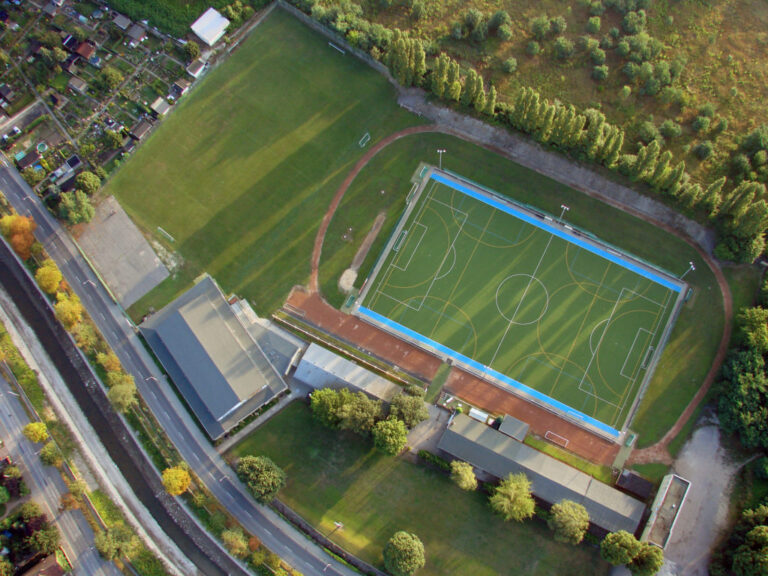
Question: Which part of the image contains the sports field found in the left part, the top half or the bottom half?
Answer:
top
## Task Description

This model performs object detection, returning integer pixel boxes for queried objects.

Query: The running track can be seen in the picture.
[282,124,732,465]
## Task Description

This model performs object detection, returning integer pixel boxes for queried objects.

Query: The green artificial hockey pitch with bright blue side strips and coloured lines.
[349,165,692,447]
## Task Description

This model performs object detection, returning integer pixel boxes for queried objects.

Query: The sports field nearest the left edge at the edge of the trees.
[104,8,397,325]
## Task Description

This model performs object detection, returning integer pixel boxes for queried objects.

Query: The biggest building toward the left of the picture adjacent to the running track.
[138,274,288,440]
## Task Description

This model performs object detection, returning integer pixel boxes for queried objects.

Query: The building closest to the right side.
[640,475,692,549]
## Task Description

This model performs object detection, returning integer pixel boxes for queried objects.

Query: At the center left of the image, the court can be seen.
[78,196,168,305]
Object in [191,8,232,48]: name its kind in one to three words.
building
